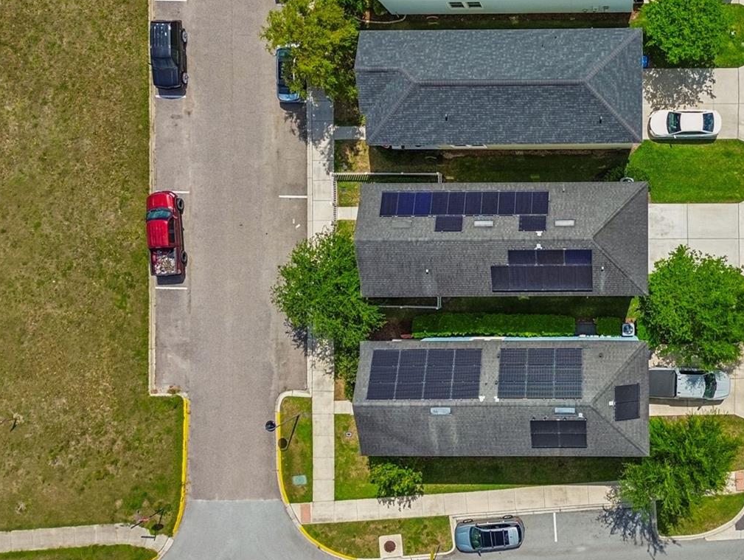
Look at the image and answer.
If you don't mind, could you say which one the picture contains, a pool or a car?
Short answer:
car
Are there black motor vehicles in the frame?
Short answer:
Yes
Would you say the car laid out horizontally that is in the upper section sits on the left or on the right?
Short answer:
right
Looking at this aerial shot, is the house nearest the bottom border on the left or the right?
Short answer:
right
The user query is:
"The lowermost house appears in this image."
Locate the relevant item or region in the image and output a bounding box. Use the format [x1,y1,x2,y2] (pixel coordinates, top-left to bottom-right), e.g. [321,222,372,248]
[352,335,650,457]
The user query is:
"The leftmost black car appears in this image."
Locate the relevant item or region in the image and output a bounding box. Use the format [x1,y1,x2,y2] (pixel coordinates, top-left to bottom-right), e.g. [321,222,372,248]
[150,24,190,90]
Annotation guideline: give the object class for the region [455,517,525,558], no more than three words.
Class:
car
